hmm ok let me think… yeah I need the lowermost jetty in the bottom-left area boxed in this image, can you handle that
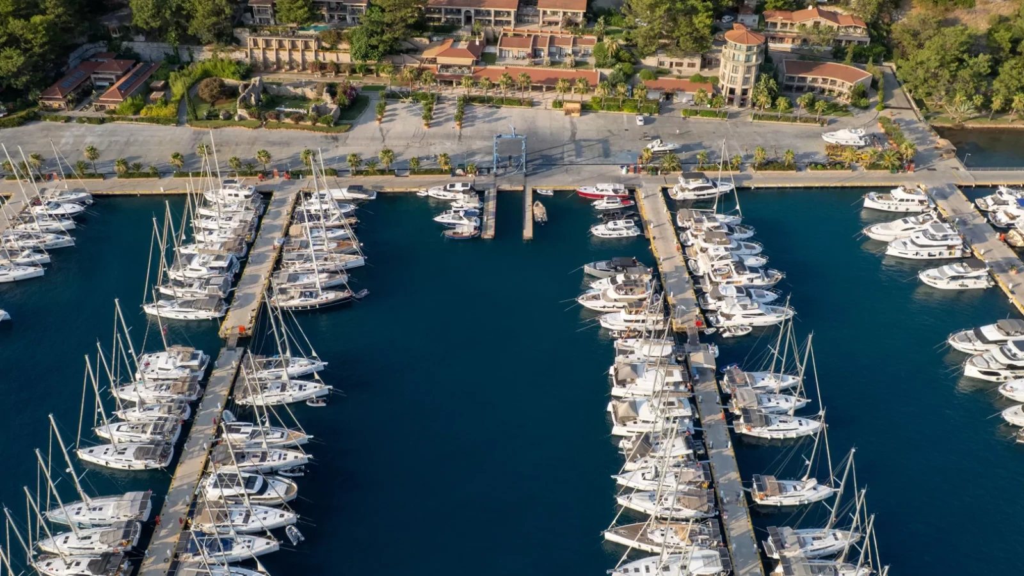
[135,346,246,576]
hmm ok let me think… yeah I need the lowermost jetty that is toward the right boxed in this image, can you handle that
[683,344,769,576]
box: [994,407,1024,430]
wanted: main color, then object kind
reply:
white boat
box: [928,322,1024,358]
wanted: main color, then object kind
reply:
white boat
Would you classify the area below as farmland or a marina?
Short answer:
marina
